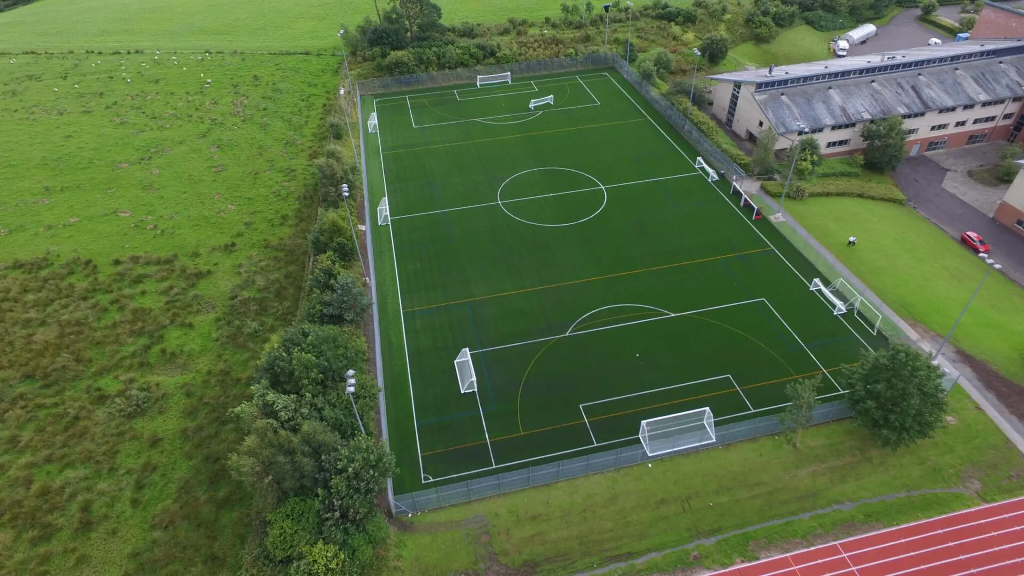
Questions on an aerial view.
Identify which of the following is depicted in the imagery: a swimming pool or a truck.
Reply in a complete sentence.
There is a truck in the scene.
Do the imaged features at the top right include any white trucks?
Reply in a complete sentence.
Yes, at the top right there is a white truck.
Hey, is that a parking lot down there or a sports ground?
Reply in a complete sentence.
What you see here is a sports ground.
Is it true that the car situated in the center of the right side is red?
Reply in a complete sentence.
Yes, the car situated in the center of the right side appears red.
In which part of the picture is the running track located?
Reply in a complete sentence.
You can find the running track in the bottom right area of the picture.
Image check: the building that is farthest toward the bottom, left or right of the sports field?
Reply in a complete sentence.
From the viewer's perspective, the building that is farthest toward the bottom falls to the right of the sports field.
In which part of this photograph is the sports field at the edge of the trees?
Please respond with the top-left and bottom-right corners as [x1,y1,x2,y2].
[362,67,897,514]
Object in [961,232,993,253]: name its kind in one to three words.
car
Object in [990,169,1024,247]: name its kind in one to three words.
building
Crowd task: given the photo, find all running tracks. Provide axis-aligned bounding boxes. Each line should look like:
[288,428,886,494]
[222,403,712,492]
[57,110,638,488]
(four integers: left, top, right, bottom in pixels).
[708,495,1024,576]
